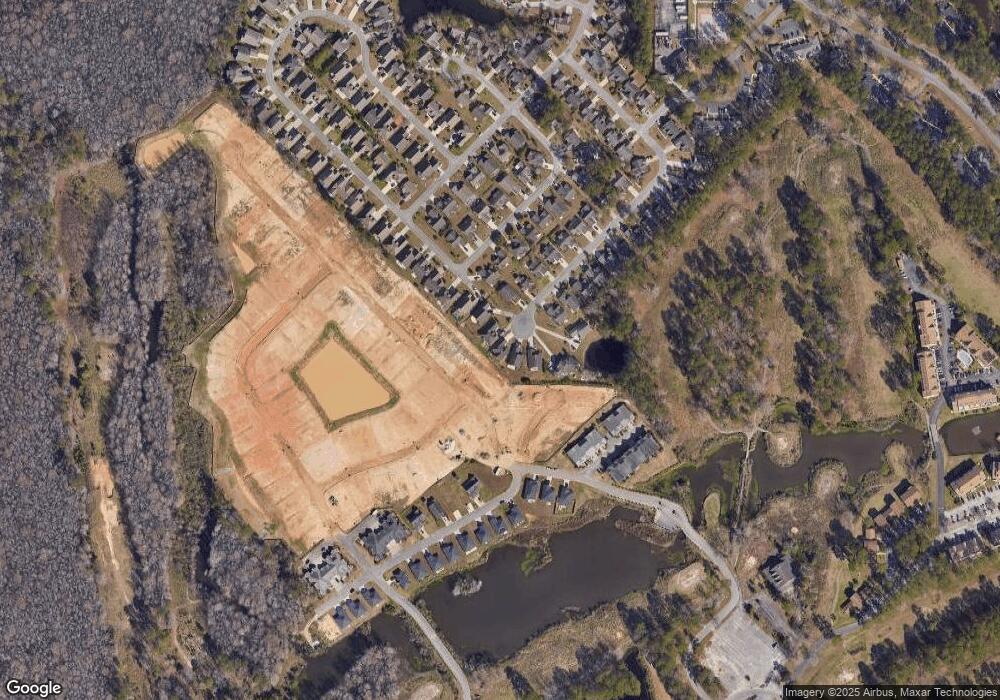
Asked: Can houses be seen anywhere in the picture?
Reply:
Yes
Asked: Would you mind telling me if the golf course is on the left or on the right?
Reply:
right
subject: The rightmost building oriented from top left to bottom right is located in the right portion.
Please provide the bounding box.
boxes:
[957,326,996,367]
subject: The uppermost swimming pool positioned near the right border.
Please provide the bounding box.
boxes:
[956,348,975,370]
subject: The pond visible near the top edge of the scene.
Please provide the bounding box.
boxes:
[395,0,506,34]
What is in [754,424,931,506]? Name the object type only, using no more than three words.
pond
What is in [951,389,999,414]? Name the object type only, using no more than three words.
building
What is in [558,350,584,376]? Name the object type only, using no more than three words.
house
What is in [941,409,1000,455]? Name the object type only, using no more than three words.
pond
